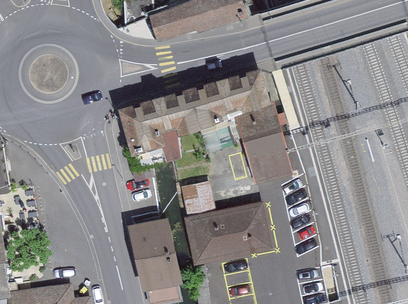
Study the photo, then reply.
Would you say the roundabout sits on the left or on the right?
left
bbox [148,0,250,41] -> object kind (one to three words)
house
